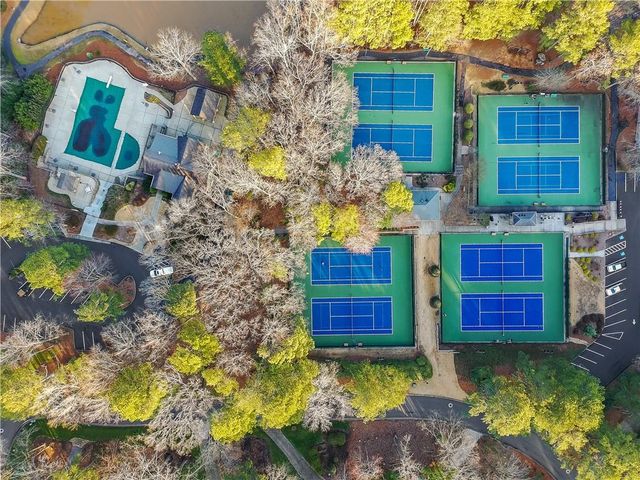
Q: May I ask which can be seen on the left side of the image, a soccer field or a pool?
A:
pool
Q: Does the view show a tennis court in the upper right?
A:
Yes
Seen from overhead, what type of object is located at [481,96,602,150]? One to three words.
tennis court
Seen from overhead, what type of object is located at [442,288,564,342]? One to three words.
tennis court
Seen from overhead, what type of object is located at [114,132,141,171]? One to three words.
swimming pool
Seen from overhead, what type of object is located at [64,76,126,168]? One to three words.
swimming pool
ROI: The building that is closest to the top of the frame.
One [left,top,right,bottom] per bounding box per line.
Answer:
[191,87,221,121]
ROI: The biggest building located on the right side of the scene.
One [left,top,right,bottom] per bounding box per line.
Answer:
[402,189,441,222]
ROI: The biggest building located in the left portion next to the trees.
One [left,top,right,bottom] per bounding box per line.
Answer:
[142,131,200,202]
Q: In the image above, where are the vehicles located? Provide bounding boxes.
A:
[607,262,628,272]
[149,266,172,276]
[606,286,623,296]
